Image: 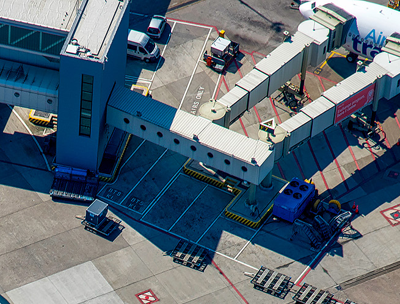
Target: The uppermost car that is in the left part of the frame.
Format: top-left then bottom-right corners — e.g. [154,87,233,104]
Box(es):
[142,13,171,43]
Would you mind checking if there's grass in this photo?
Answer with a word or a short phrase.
No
